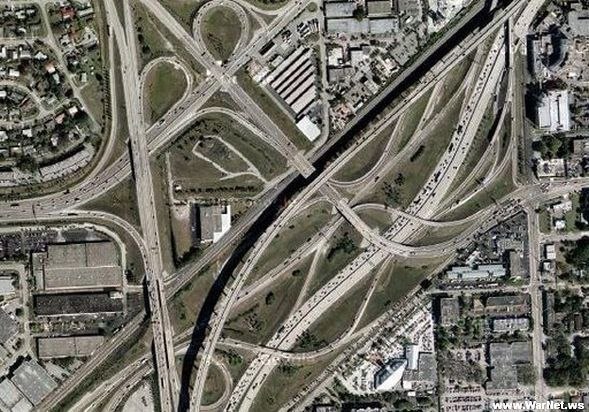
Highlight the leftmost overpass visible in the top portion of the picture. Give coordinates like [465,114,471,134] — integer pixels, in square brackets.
[124,127,150,184]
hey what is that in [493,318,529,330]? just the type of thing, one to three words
building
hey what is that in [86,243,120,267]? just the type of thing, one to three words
building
